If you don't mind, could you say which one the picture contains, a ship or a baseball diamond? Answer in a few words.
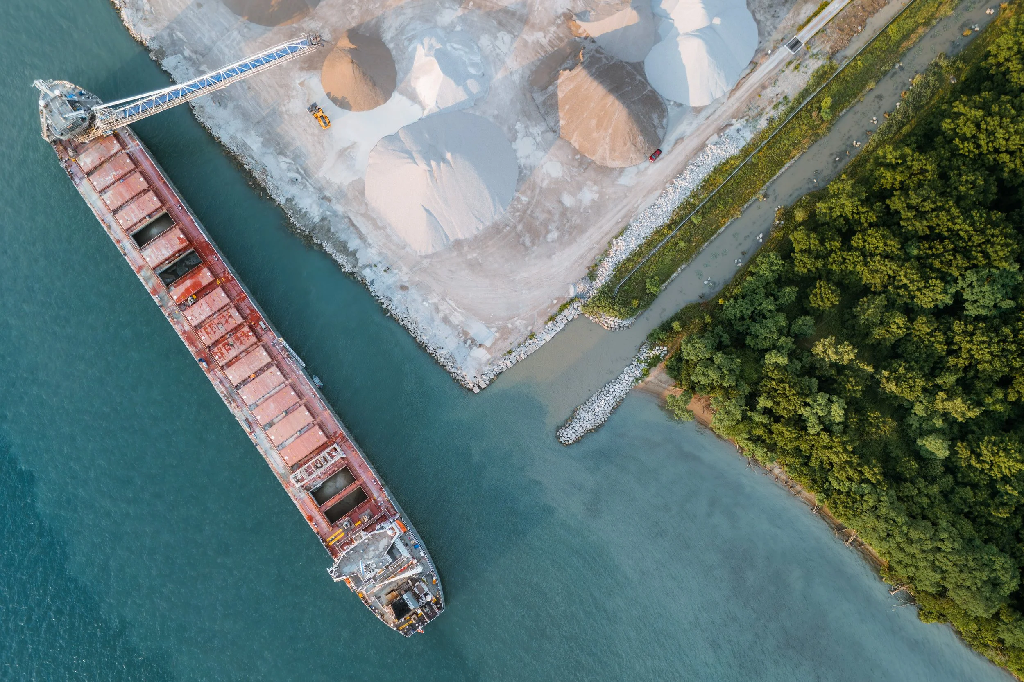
ship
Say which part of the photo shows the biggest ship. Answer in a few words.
left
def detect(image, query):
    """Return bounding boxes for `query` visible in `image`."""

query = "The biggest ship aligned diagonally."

[32,30,445,639]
